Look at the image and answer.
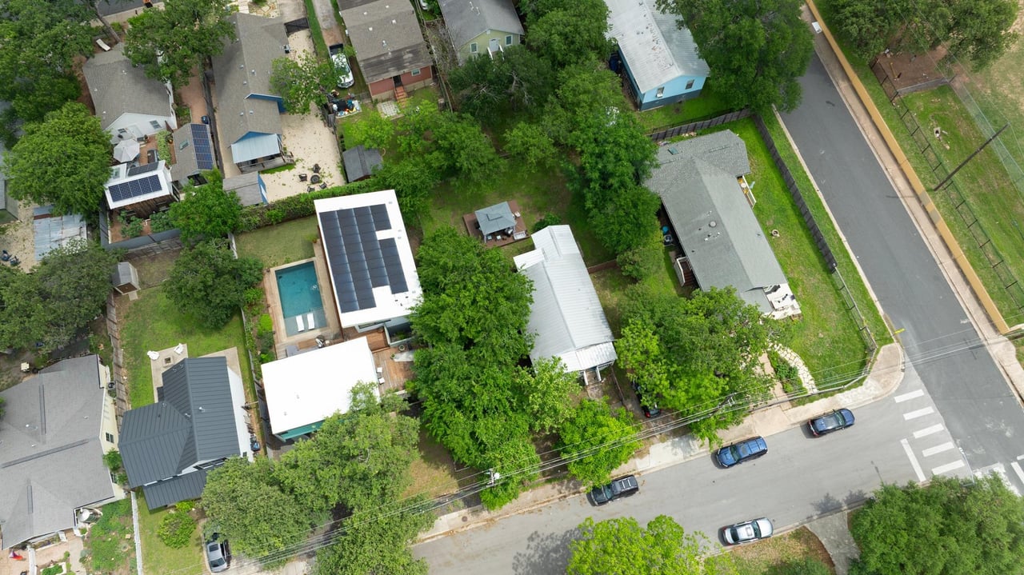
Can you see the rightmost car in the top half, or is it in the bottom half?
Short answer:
bottom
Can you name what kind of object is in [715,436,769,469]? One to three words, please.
car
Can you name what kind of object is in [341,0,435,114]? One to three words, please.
house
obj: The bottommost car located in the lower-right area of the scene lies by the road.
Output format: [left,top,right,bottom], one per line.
[720,516,774,548]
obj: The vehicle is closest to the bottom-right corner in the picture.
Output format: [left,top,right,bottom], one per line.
[805,409,854,438]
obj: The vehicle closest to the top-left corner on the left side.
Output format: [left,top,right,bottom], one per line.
[328,46,355,87]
